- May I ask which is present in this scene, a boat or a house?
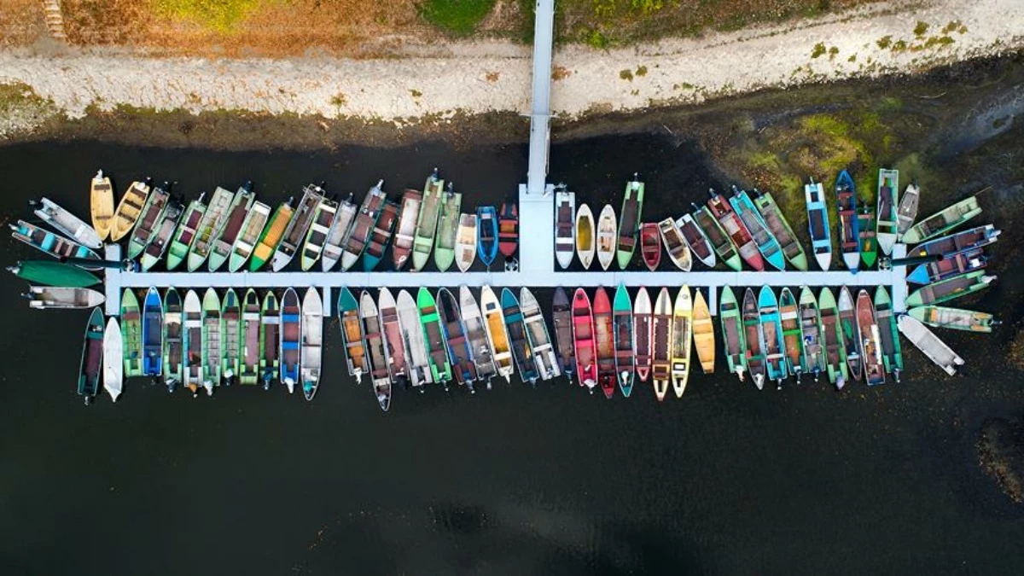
boat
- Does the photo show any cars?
No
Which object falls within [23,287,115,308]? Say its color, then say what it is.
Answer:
gray boat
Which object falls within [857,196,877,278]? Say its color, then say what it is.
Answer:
green boat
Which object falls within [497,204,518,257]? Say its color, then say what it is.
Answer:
red boat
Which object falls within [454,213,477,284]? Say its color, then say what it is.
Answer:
white boat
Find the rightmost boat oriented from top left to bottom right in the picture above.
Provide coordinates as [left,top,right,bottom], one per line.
[894,308,965,374]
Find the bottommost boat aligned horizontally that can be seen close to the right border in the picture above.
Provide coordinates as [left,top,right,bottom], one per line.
[897,305,1001,332]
